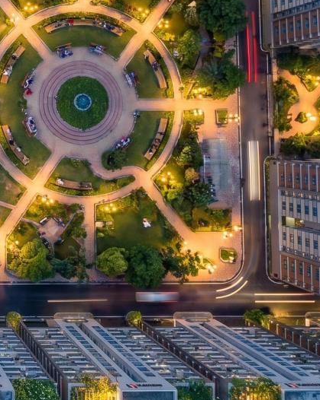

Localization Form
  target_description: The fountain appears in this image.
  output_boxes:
[73,93,92,111]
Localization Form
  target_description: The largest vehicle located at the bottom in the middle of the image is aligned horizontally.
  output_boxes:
[139,290,174,304]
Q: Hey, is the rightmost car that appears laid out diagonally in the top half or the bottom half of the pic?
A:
bottom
